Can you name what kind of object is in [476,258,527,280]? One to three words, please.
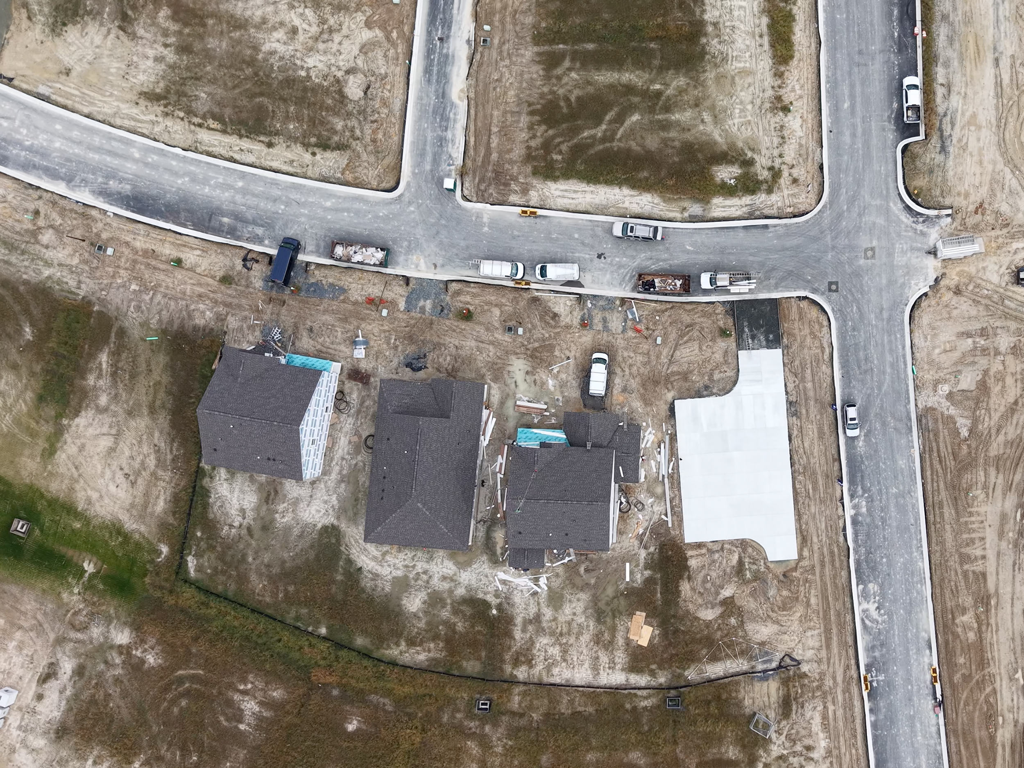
vehicle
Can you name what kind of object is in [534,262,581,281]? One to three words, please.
vehicle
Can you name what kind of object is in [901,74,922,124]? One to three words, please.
truck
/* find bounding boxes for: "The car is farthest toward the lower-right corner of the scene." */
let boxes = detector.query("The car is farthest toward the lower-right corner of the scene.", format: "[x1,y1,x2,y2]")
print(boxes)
[843,401,862,438]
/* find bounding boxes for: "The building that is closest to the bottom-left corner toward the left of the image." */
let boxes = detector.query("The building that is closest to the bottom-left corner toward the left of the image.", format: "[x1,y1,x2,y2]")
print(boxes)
[197,343,341,481]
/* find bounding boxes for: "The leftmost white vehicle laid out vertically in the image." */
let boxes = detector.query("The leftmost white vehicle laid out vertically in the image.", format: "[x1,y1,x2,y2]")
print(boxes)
[590,351,610,398]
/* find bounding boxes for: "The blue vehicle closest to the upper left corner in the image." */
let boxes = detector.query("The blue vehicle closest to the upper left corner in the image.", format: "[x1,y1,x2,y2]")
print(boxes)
[259,236,303,288]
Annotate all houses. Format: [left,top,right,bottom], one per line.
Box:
[197,343,341,481]
[506,412,642,568]
[364,378,487,551]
